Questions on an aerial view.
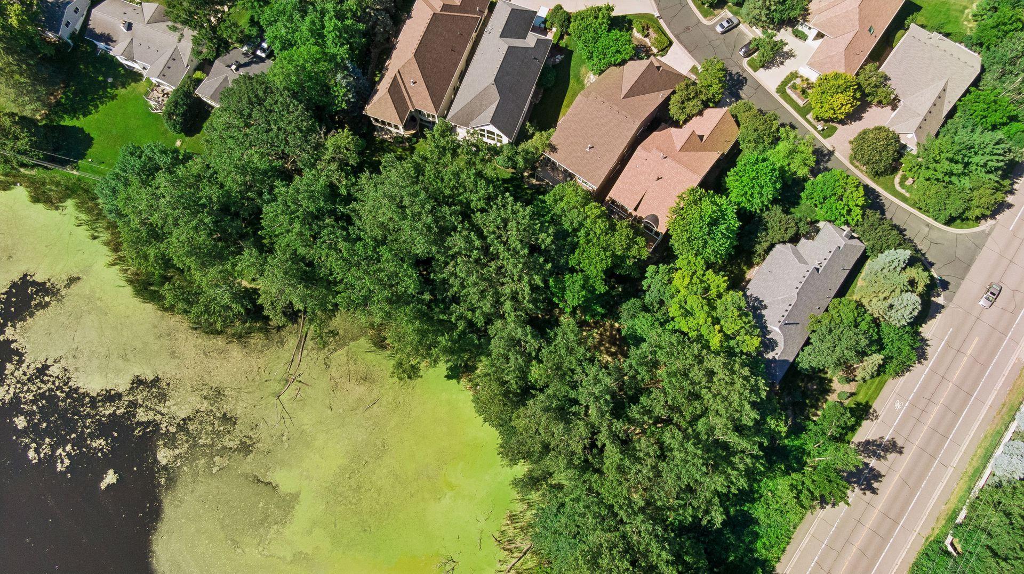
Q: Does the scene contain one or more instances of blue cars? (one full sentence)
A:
No, no blue car is visible in the view.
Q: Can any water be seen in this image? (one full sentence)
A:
Yes, water shows up in the scene.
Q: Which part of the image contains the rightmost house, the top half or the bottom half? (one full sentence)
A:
The rightmost house is in the top half of the image.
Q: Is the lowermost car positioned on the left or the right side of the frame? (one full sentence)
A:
The lowermost car appears in the right half of the scene.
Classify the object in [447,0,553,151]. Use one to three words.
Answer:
house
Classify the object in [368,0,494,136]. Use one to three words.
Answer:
house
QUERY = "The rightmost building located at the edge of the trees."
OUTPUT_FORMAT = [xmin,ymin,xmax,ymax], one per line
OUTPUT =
[879,23,981,155]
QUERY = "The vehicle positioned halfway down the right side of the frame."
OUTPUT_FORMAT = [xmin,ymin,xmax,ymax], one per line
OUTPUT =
[979,282,1002,310]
